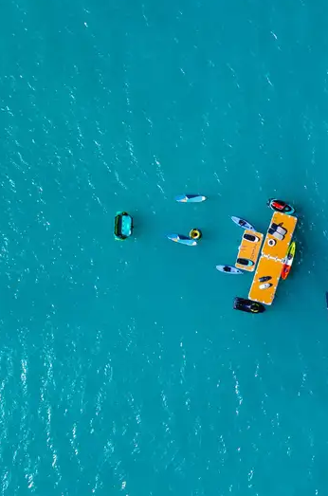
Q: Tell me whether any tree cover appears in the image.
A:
No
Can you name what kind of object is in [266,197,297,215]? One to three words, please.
boat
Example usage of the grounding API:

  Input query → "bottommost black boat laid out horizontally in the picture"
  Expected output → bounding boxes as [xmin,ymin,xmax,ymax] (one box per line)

[232,298,267,313]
